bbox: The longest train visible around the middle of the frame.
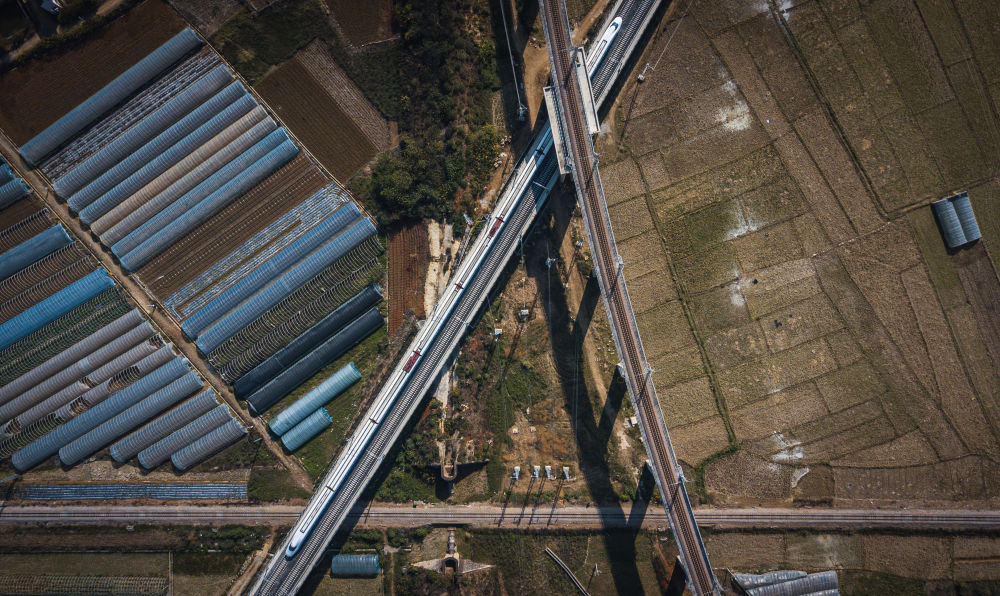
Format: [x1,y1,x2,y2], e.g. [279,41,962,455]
[293,10,626,550]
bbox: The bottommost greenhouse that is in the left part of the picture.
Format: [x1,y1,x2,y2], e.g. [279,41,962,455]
[329,552,382,575]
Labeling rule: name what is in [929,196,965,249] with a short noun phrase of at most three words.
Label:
greenhouse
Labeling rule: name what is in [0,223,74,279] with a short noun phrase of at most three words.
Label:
greenhouse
